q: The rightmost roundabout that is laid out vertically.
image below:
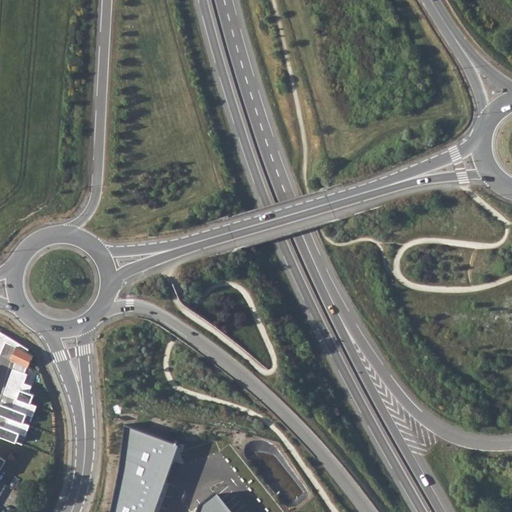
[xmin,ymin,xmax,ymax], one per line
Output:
[472,90,512,202]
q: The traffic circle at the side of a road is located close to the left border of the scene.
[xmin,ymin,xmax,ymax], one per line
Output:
[0,224,119,339]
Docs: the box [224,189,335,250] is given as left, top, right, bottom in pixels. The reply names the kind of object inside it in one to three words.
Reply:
overpass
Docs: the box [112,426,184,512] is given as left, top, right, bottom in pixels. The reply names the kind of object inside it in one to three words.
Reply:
building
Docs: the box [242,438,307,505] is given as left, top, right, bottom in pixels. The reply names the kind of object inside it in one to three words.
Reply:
pond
